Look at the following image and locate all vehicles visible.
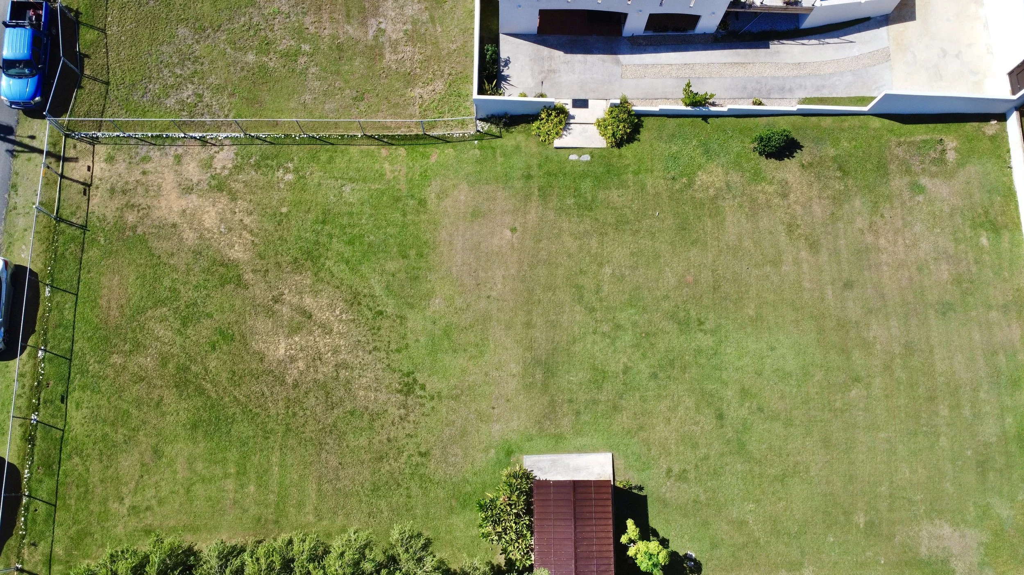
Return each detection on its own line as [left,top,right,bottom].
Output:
[0,0,62,111]
[0,258,20,351]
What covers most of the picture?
grass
